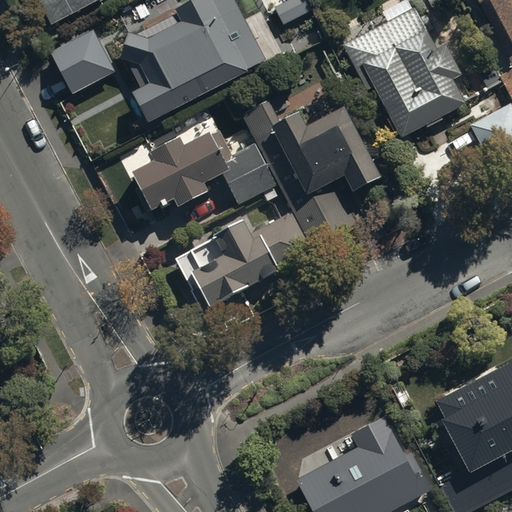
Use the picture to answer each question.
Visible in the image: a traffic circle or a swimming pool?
traffic circle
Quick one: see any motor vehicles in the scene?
Yes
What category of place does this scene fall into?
residential area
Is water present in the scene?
No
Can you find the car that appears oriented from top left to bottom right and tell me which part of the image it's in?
top left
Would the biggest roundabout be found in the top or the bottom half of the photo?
bottom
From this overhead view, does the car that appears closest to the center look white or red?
red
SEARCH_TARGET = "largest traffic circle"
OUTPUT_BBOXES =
[124,396,173,446]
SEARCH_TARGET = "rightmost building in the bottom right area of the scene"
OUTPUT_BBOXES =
[436,360,512,512]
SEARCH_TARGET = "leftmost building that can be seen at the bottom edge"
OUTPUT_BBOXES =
[296,416,431,512]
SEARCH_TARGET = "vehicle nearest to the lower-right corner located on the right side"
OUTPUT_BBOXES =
[450,274,482,300]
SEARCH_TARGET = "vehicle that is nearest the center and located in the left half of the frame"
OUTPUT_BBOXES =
[186,198,216,220]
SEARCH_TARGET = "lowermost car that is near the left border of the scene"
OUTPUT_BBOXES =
[24,118,48,150]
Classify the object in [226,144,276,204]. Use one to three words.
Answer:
shed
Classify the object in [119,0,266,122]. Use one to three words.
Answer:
house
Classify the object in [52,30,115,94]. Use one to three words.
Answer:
building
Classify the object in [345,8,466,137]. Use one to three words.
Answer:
house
